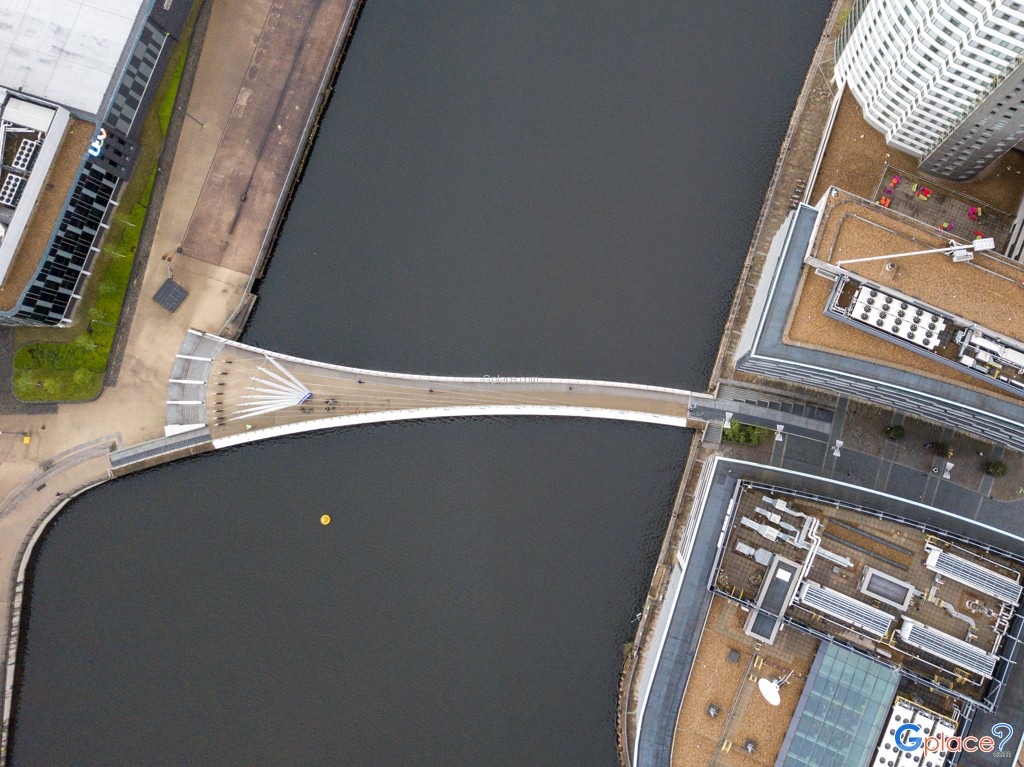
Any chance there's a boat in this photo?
No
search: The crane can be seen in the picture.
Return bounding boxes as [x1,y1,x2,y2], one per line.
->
[834,238,994,270]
